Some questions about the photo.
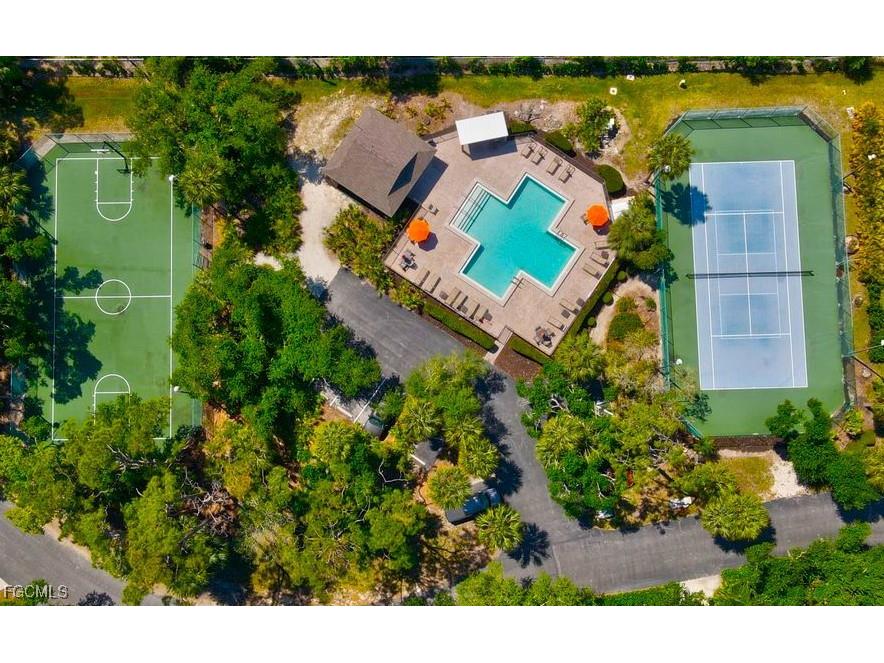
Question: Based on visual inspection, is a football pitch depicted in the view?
No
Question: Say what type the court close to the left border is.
basketball court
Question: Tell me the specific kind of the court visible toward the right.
tennis court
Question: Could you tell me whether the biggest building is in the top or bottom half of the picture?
top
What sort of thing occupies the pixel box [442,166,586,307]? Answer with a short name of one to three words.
swimming pool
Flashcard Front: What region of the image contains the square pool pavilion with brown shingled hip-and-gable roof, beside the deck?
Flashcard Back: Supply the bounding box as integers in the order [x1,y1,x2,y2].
[323,106,436,216]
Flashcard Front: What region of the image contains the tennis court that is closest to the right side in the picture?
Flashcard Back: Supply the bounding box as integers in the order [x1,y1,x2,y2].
[659,117,846,437]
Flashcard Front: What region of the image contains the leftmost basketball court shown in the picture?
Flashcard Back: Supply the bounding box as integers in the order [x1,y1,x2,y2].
[23,142,201,463]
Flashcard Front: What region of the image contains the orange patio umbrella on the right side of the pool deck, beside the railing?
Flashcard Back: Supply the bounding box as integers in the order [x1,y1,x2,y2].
[589,206,613,230]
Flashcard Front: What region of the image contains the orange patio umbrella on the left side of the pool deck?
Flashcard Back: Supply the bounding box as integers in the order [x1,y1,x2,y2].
[406,221,431,246]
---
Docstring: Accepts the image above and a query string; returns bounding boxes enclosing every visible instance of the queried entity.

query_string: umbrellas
[589,206,613,230]
[406,221,431,246]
